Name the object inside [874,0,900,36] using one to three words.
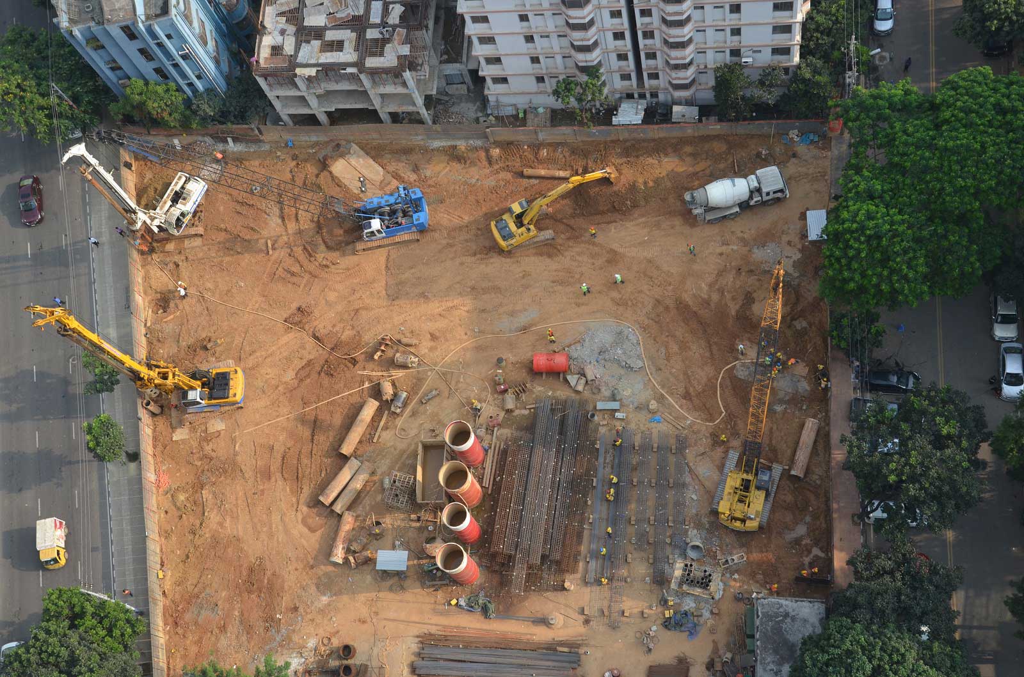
car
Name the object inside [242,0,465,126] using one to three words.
building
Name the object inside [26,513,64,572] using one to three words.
truck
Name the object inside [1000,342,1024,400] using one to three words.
car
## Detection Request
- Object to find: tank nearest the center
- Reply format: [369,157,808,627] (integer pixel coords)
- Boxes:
[532,354,568,385]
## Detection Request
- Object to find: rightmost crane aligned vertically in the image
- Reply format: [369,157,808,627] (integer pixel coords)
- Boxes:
[706,257,784,535]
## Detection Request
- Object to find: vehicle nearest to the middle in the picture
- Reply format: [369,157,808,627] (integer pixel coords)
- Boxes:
[485,163,620,259]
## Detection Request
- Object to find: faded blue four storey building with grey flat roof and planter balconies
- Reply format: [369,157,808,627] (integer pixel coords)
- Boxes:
[54,0,268,103]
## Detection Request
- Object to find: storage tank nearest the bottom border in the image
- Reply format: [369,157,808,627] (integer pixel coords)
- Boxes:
[436,543,485,587]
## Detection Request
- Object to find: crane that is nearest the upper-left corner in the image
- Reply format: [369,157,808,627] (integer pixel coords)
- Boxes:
[78,124,432,255]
